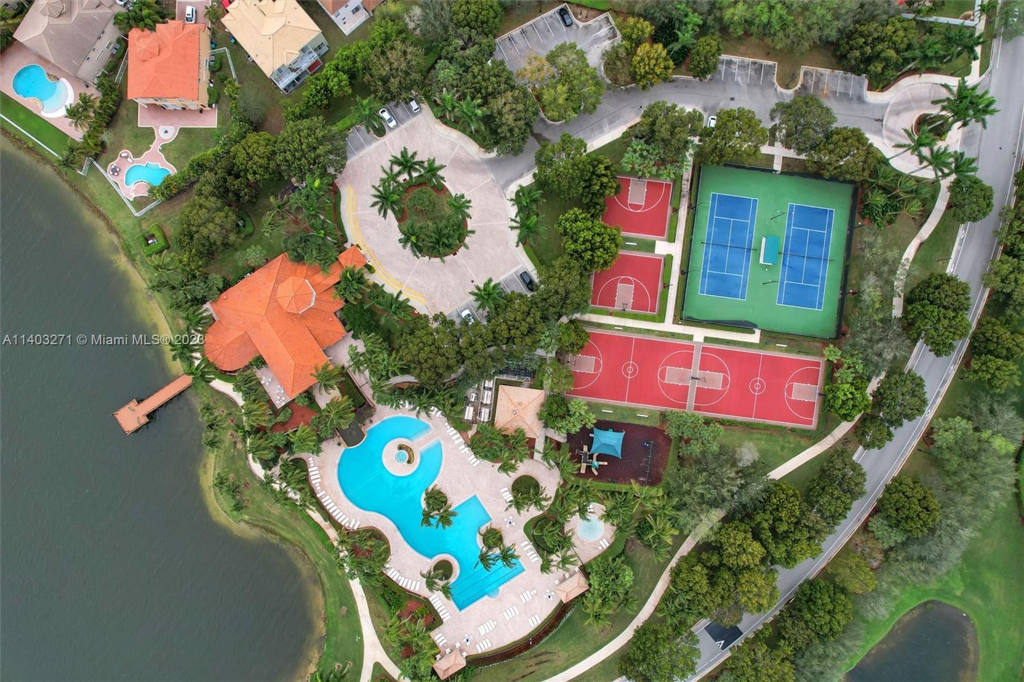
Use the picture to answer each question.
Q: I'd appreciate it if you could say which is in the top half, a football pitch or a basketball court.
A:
basketball court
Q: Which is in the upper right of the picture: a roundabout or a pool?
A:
roundabout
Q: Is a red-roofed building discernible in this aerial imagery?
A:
Yes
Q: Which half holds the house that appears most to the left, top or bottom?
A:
top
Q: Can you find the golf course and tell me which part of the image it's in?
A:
bottom right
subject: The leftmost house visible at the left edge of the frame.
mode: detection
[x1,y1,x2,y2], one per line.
[12,0,133,80]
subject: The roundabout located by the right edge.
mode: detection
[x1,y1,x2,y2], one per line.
[866,69,993,186]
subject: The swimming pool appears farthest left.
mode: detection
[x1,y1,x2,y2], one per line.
[11,63,76,120]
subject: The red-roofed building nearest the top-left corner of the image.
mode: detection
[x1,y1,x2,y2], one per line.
[126,20,209,108]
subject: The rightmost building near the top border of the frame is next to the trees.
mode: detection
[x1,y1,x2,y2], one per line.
[318,0,383,35]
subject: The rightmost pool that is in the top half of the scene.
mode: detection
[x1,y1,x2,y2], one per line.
[124,160,173,200]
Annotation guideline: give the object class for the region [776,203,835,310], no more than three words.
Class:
tennis court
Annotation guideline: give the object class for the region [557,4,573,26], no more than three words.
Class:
car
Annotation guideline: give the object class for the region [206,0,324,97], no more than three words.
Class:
house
